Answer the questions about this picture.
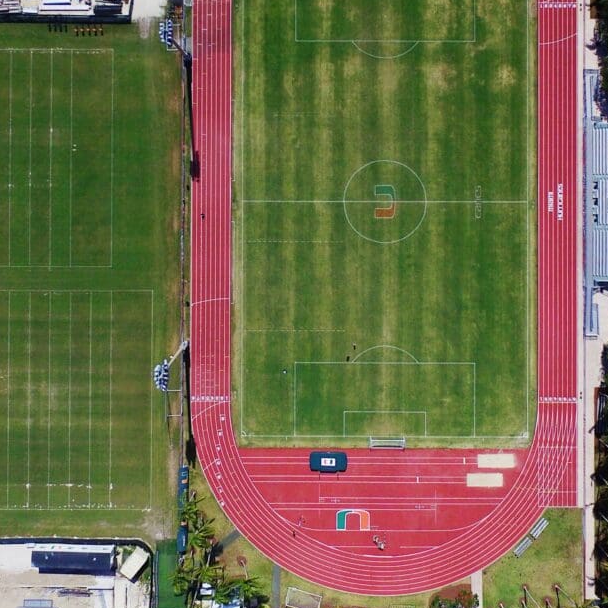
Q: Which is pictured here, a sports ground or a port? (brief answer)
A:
sports ground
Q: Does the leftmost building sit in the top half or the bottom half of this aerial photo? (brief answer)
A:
bottom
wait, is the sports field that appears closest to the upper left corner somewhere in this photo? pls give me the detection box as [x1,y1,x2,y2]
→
[0,22,182,278]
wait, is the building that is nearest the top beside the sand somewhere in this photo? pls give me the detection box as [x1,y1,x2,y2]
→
[31,542,117,569]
